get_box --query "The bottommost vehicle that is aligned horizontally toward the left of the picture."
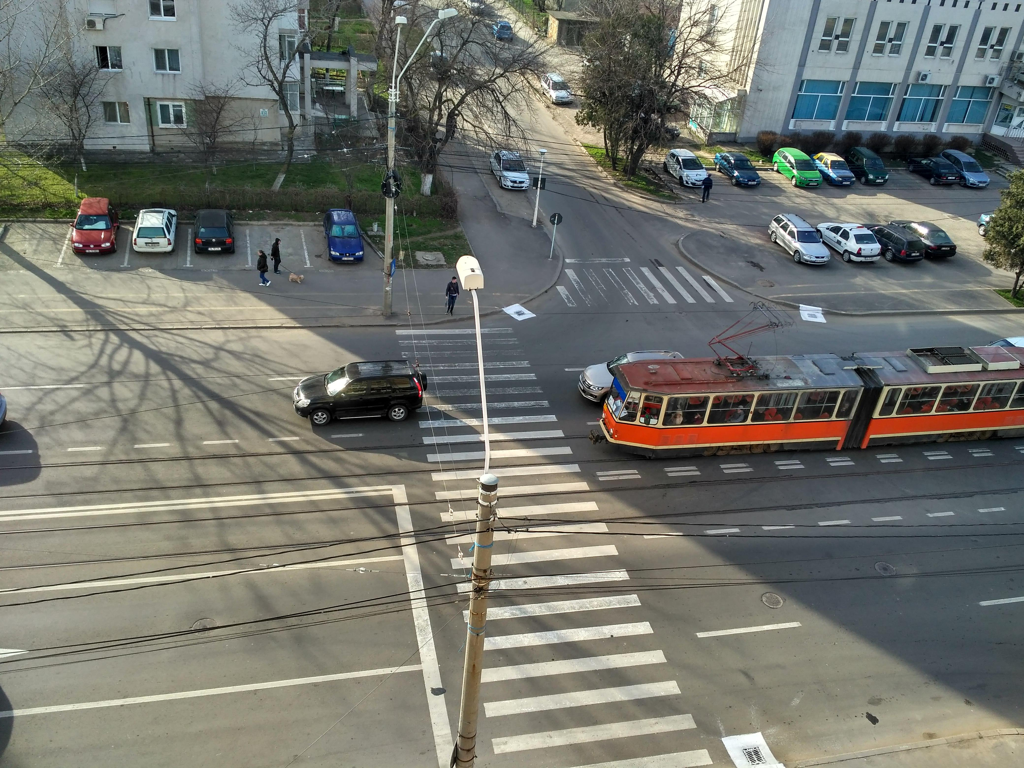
[291,356,429,424]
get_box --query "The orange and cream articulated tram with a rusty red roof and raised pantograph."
[591,304,1024,460]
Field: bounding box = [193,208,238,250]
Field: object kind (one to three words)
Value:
car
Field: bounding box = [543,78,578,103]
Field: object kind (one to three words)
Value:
car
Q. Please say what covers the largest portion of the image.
paved ground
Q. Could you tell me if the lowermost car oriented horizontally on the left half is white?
No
